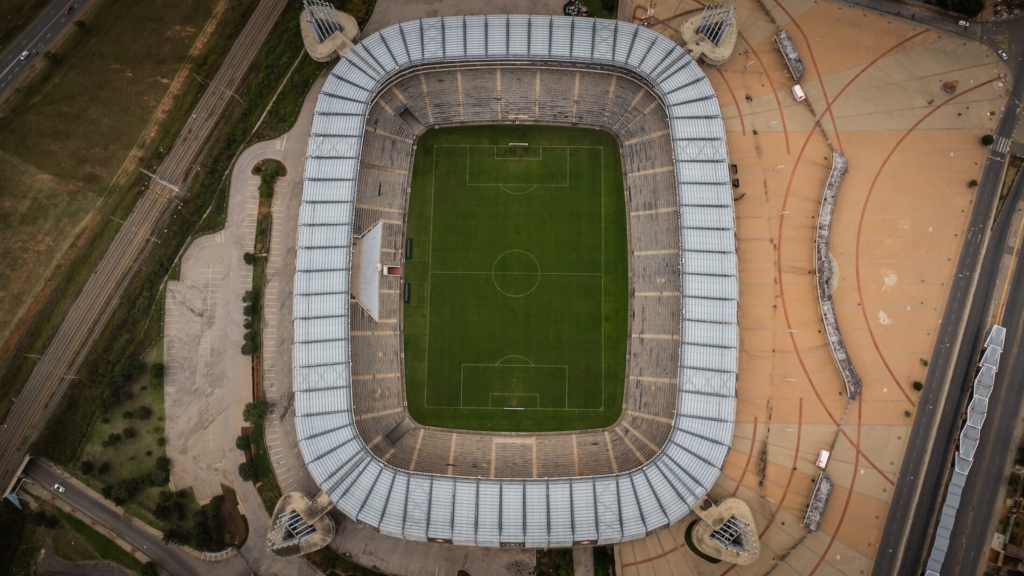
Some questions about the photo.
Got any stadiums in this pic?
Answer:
Yes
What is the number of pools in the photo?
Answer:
none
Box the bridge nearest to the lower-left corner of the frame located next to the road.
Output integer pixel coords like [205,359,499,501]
[0,436,44,509]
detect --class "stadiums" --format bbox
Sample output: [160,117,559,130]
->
[290,12,742,548]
